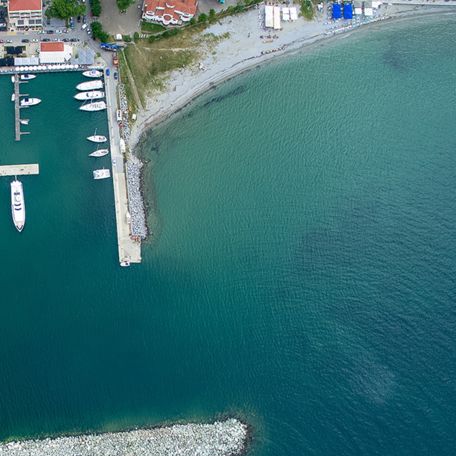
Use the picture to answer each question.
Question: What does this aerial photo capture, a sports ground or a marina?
marina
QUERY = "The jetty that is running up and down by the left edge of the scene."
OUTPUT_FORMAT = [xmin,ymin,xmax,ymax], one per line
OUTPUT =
[15,75,31,141]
